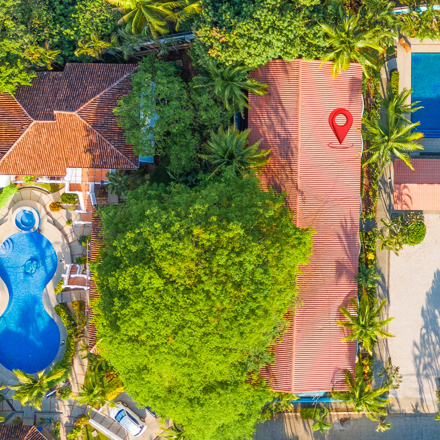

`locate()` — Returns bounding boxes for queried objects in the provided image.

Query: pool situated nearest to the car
[0,232,60,373]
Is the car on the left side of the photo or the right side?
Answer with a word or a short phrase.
left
